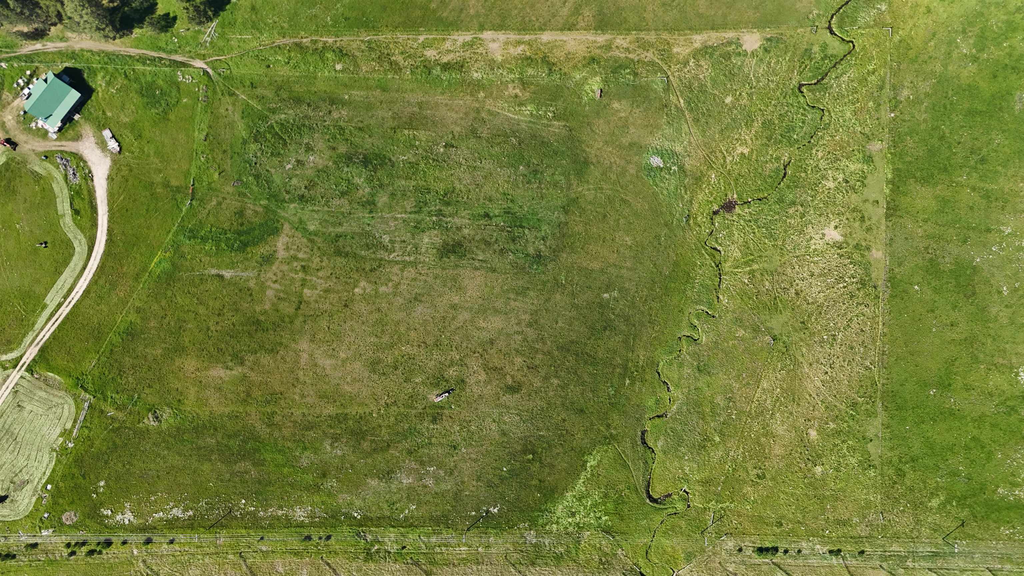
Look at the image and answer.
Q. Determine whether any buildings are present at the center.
No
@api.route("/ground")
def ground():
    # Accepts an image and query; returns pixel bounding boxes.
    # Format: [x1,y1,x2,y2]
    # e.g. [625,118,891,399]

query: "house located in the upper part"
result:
[24,71,83,131]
